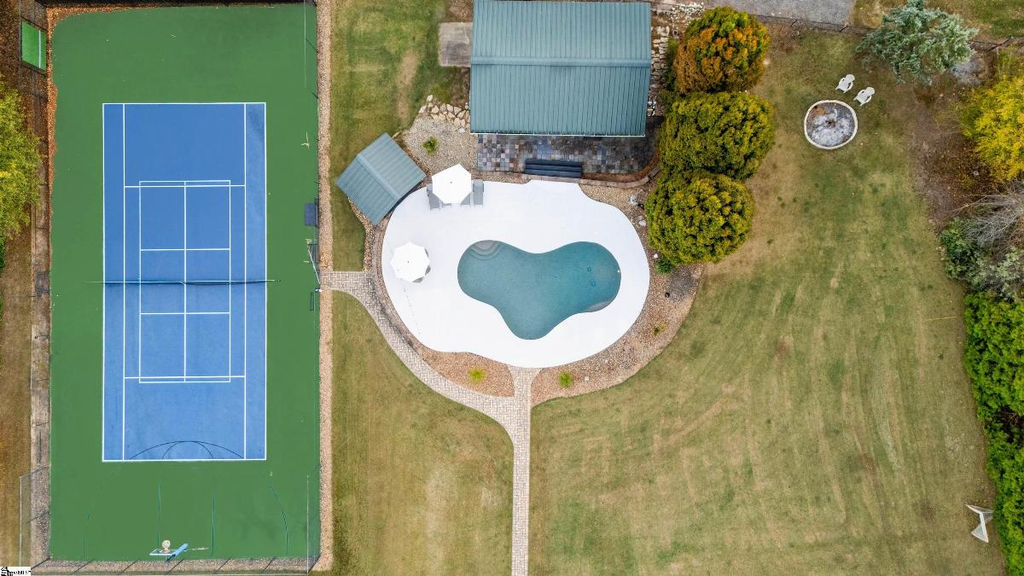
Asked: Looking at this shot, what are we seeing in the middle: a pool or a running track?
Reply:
pool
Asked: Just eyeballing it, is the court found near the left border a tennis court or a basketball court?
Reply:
tennis court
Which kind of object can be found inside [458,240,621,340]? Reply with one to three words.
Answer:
swimming pool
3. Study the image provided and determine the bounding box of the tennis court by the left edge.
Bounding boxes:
[50,7,320,560]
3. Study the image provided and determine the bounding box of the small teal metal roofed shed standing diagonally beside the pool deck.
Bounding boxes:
[337,133,425,225]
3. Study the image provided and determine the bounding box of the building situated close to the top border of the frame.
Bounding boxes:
[470,0,654,139]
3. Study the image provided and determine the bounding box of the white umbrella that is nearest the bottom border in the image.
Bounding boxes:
[391,242,430,283]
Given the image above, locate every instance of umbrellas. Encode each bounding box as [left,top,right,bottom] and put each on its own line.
[391,242,430,283]
[432,164,472,204]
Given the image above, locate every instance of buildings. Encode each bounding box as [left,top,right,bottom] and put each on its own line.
[337,133,425,225]
[470,0,654,139]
